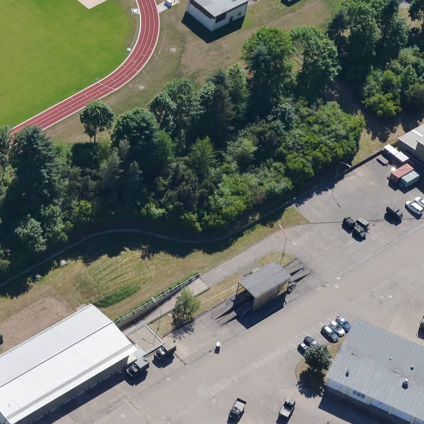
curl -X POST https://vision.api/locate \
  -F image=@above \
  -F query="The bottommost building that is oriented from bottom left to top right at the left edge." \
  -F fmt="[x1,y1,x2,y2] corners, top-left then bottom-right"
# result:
[0,302,146,424]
